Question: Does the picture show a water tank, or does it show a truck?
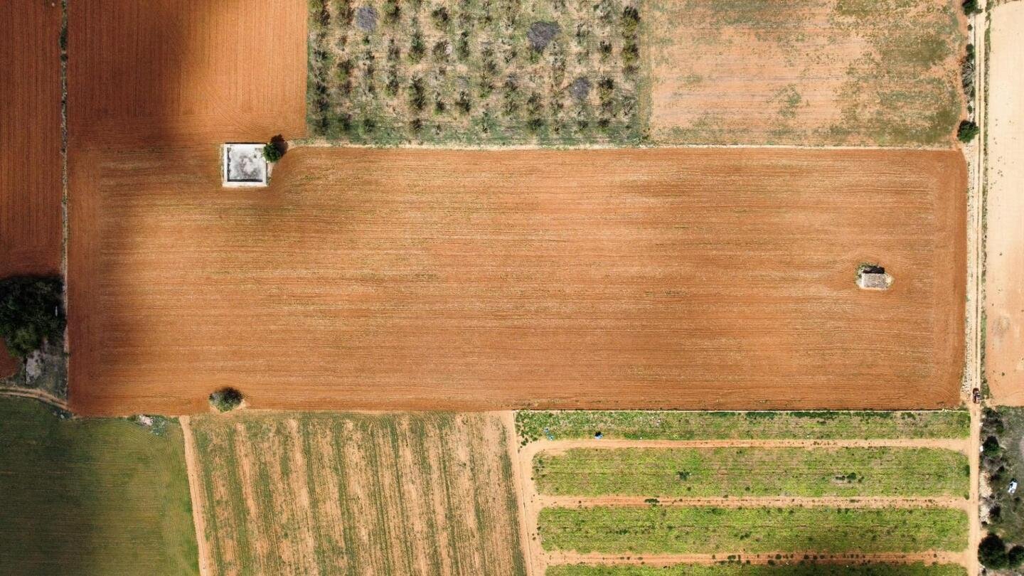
water tank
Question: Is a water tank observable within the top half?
Yes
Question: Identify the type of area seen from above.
farmland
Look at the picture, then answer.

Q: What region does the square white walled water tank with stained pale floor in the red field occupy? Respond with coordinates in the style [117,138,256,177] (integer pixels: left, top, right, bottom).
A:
[221,145,267,189]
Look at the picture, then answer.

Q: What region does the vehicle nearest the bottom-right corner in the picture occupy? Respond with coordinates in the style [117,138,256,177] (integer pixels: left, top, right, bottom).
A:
[1006,480,1019,495]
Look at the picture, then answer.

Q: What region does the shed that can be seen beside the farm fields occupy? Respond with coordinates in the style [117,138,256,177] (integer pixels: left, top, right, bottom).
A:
[860,272,888,289]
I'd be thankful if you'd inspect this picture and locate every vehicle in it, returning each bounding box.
[972,388,982,404]
[1006,480,1019,495]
